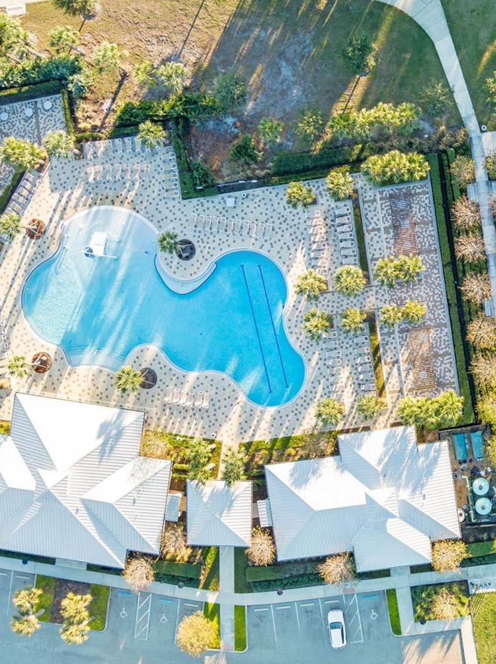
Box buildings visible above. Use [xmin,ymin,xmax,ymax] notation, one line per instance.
[0,392,175,569]
[186,477,258,548]
[264,425,461,573]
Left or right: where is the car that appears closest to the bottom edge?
right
